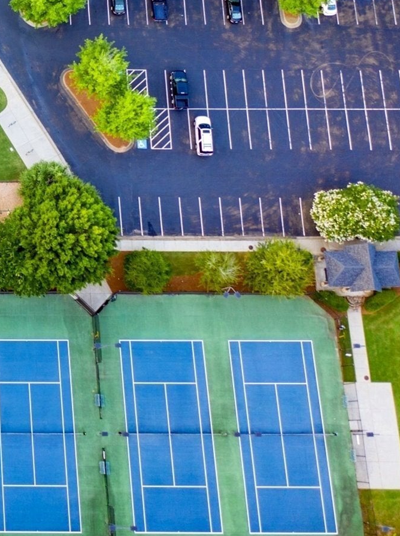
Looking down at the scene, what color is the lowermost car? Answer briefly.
white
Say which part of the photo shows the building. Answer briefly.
right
